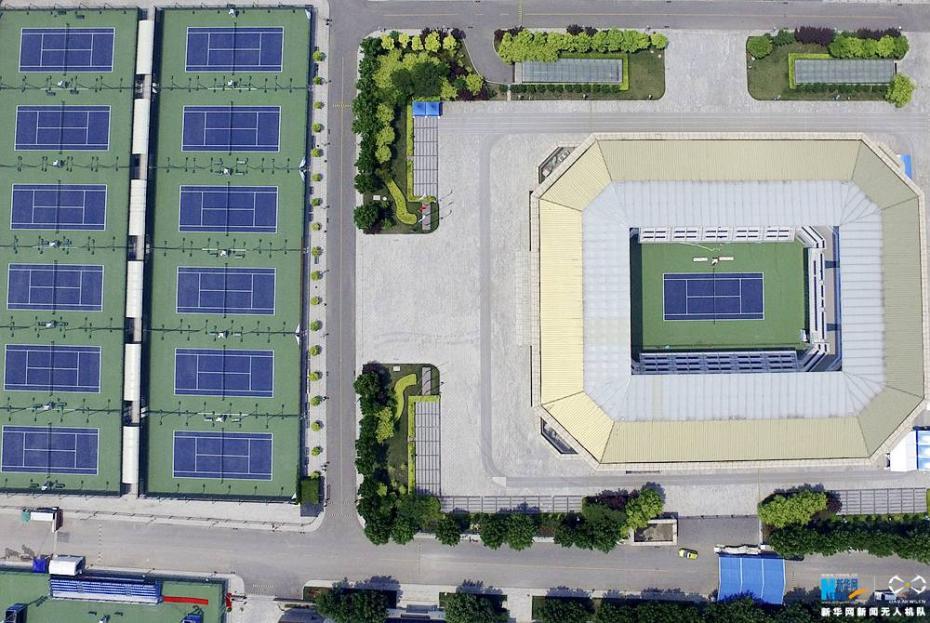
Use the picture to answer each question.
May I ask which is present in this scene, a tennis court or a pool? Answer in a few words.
tennis court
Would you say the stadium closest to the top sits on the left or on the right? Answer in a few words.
right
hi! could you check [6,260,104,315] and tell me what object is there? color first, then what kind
blue tennis court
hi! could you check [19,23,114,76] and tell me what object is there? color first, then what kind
blue tennis court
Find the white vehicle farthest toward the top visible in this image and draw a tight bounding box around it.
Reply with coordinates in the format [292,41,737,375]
[22,509,51,523]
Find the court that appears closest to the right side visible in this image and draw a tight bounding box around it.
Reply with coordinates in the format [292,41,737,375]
[661,267,766,325]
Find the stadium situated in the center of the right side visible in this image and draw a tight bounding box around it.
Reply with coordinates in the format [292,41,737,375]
[514,133,930,472]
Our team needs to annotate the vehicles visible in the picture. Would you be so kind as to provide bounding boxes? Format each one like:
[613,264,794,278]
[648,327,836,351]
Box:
[678,549,698,560]
[22,509,51,523]
[872,590,900,602]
